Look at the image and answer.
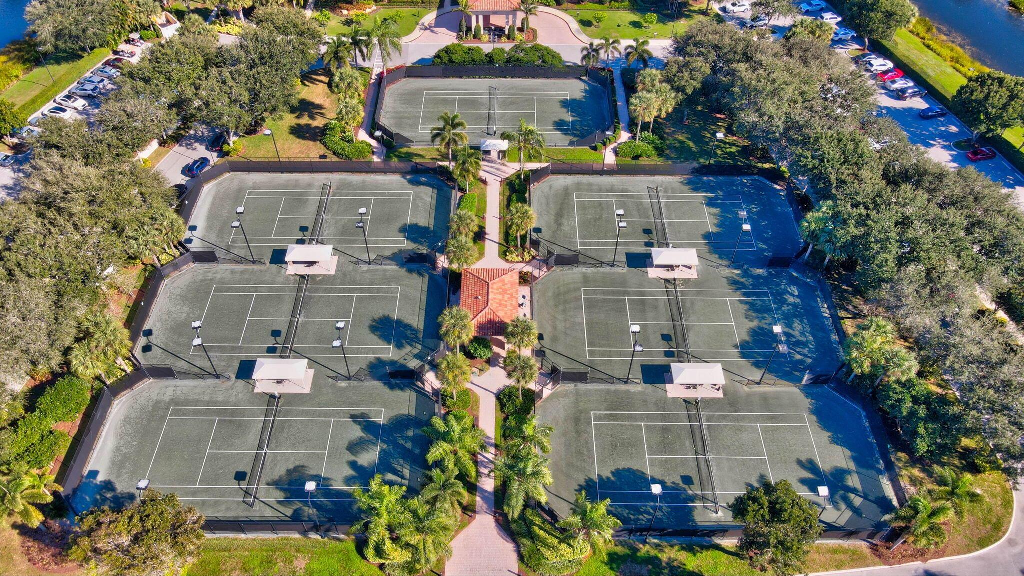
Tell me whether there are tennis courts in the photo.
Yes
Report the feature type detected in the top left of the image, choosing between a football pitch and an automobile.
automobile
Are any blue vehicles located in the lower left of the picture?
No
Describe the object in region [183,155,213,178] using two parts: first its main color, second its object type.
blue car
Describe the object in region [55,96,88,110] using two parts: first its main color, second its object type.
white car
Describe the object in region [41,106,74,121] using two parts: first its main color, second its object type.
white car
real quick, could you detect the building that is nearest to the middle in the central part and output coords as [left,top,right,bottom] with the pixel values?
[459,268,519,350]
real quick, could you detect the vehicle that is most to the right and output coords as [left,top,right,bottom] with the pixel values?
[964,147,997,163]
